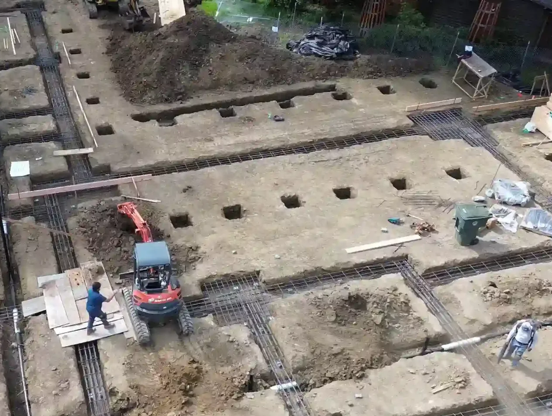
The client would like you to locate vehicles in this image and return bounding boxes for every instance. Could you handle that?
[83,0,147,37]
[117,199,195,340]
